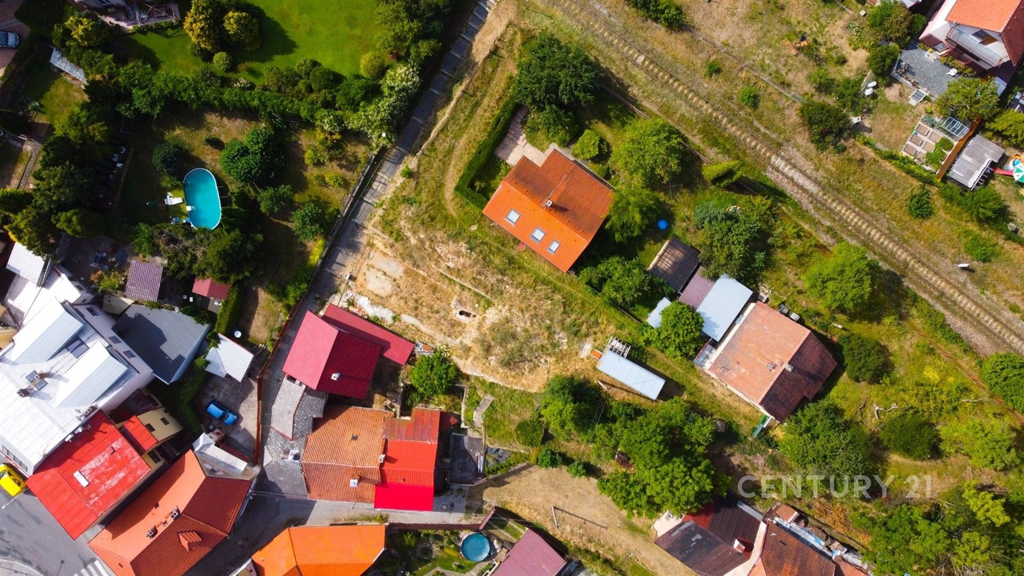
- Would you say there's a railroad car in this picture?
No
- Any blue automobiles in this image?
Yes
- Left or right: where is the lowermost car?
left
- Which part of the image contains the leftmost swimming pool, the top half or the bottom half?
top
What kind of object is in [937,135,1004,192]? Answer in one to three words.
building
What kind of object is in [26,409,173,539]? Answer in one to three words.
building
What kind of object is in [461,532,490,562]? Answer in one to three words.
swimming pool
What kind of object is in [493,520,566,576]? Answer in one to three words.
house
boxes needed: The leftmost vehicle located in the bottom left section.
[0,462,22,499]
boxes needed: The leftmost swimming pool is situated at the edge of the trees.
[184,168,233,228]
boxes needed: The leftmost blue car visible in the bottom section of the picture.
[201,401,237,426]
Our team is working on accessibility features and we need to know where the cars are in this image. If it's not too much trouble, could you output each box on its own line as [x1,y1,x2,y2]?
[0,462,22,499]
[0,26,18,48]
[201,401,237,426]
